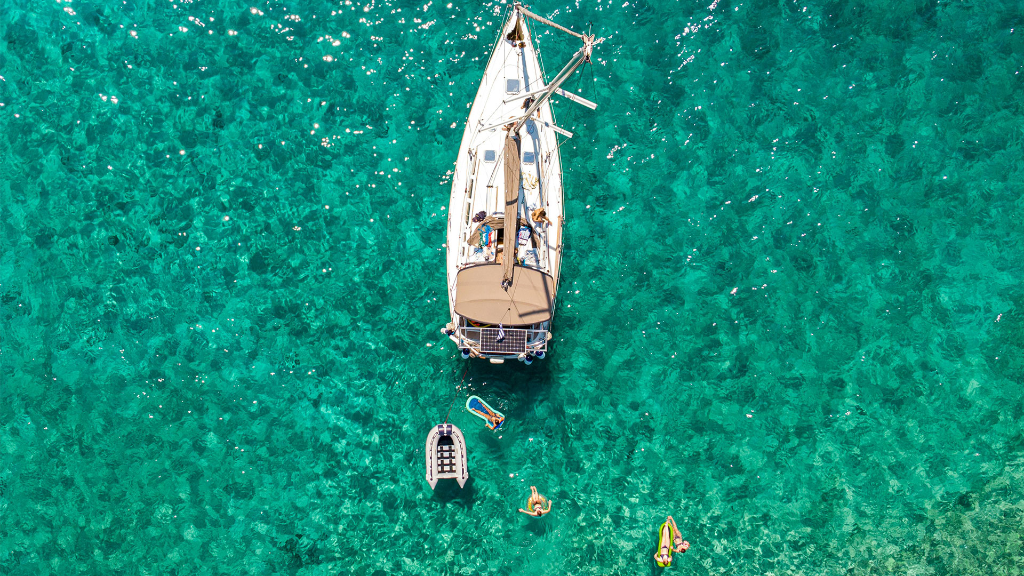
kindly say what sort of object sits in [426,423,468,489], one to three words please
boat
